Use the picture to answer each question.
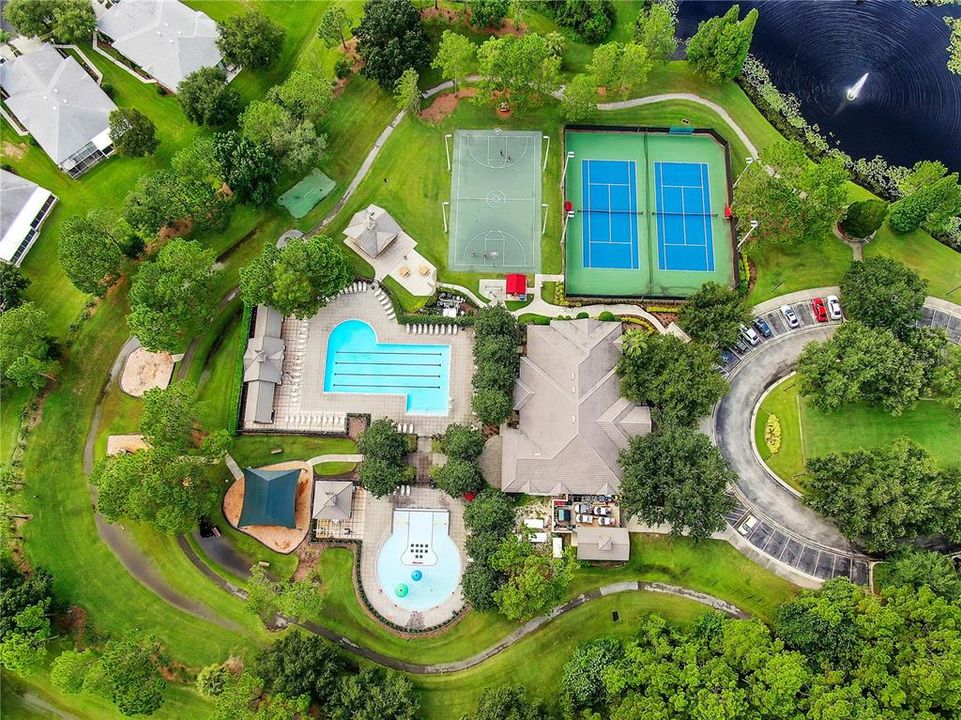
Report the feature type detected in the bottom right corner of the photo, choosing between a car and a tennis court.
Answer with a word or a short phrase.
car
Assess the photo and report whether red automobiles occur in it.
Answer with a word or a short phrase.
Yes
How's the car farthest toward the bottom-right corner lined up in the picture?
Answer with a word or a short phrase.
on a diagonal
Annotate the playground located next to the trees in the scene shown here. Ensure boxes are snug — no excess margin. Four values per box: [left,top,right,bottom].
[222,459,313,555]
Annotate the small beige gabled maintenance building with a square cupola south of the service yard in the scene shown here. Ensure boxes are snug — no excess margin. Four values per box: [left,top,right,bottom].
[571,528,630,560]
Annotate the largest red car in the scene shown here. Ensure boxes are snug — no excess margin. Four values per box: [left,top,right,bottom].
[810,298,830,322]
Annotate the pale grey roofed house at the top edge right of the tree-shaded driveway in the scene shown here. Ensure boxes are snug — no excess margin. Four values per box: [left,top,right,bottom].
[98,0,221,97]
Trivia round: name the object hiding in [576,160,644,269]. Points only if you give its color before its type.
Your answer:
blue tennis court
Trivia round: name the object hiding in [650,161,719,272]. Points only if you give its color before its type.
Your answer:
blue tennis court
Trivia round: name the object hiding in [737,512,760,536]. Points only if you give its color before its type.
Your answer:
white car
